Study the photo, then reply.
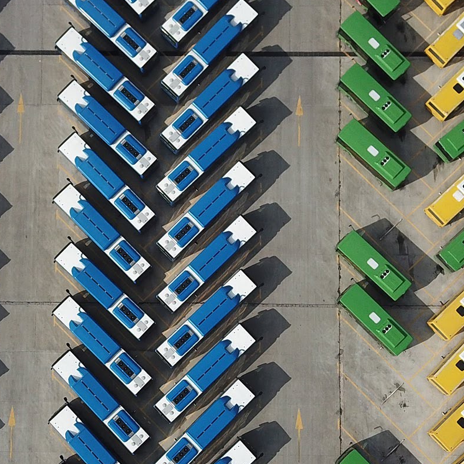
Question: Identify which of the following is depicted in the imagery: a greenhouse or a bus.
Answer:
bus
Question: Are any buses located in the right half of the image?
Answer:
Yes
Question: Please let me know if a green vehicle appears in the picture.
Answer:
Yes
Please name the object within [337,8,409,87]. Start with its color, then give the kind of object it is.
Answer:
green bus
